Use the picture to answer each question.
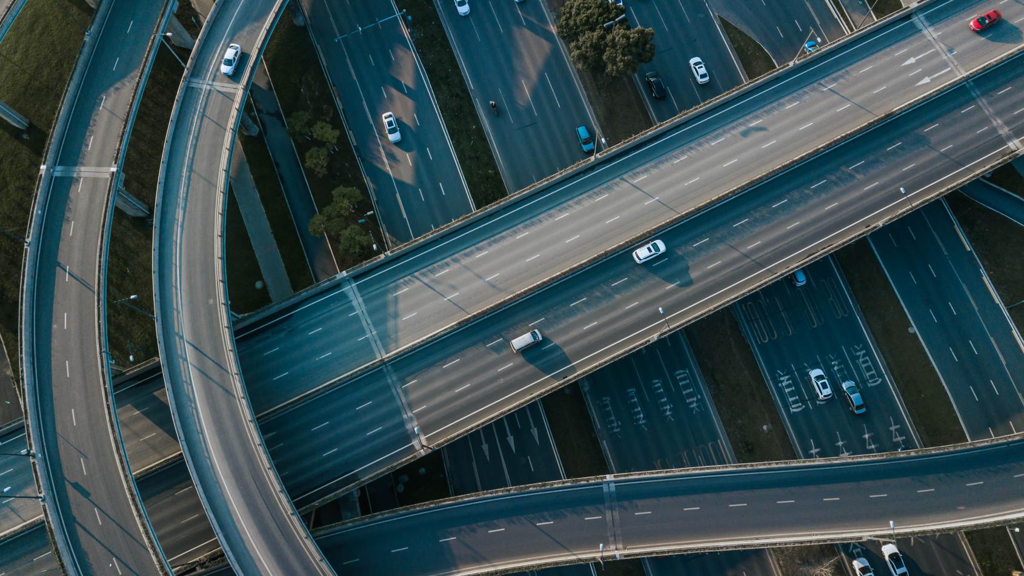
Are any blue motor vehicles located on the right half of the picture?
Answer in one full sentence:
Yes, a blue motor vehicle appears on the right half of the picture.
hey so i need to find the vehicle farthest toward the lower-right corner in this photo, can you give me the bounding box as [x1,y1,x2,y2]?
[880,540,908,576]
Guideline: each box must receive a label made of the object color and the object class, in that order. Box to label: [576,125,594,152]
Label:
blue car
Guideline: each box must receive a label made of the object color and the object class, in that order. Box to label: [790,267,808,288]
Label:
blue car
